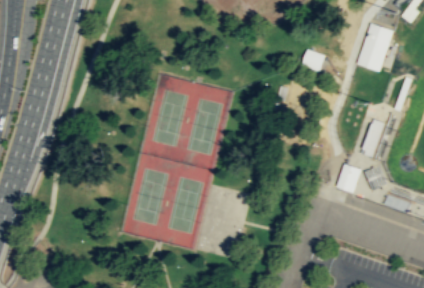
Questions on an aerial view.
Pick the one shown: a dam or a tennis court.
tennis court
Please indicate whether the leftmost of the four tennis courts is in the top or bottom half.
bottom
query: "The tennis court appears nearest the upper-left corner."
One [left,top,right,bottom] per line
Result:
[154,90,189,147]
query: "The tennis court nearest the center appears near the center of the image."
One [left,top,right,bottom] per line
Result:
[188,98,224,155]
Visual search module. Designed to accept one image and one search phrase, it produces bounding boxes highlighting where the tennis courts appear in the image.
[133,169,169,226]
[168,178,204,234]
[154,90,189,147]
[188,98,224,155]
